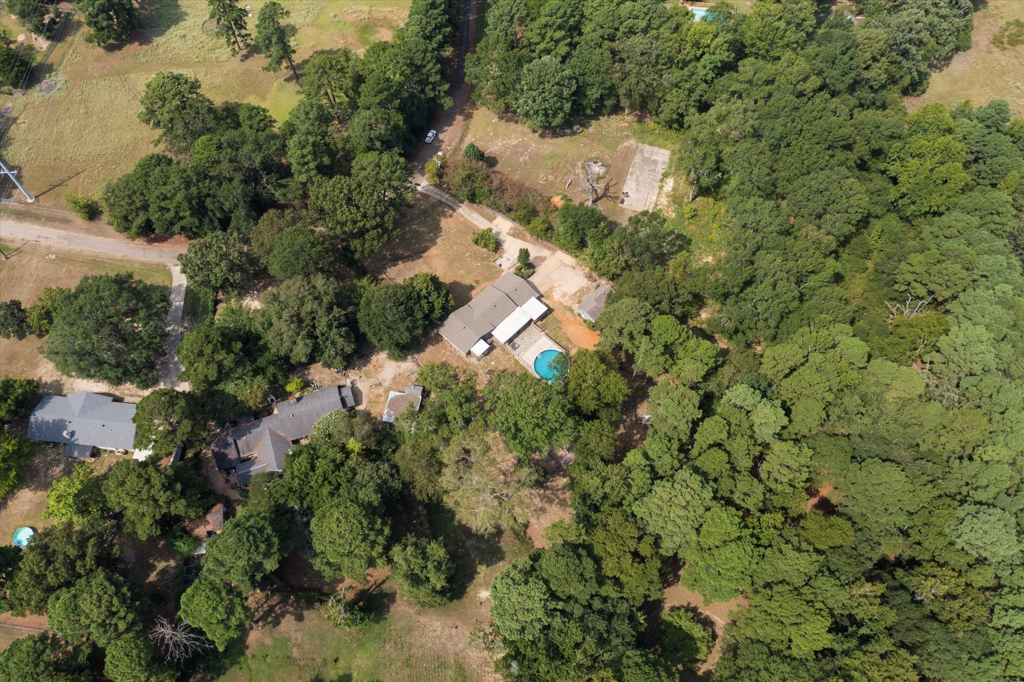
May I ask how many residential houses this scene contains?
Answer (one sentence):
The picture shows 3 residential houses.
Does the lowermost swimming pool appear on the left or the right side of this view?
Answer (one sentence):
The lowermost swimming pool is on the left side of the image.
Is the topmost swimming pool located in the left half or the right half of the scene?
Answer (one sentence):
The topmost swimming pool sits on the right side.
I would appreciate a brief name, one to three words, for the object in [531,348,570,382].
swimming pool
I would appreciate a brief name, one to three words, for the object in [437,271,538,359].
house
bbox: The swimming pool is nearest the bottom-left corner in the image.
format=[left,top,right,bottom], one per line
[8,526,35,548]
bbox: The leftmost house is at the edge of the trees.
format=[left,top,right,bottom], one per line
[26,391,142,460]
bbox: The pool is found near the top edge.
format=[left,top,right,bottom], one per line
[682,1,733,31]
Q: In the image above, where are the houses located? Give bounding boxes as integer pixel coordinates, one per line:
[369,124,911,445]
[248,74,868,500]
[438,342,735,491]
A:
[211,386,346,488]
[26,391,142,460]
[437,271,538,359]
